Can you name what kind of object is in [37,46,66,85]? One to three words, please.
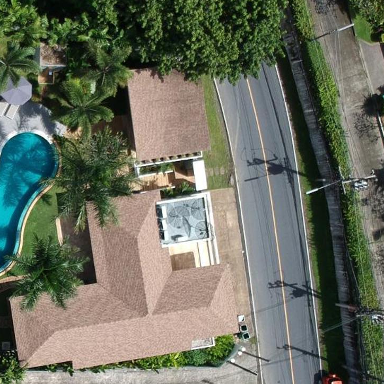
shed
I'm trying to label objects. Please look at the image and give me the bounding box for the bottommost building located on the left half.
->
[8,189,239,370]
